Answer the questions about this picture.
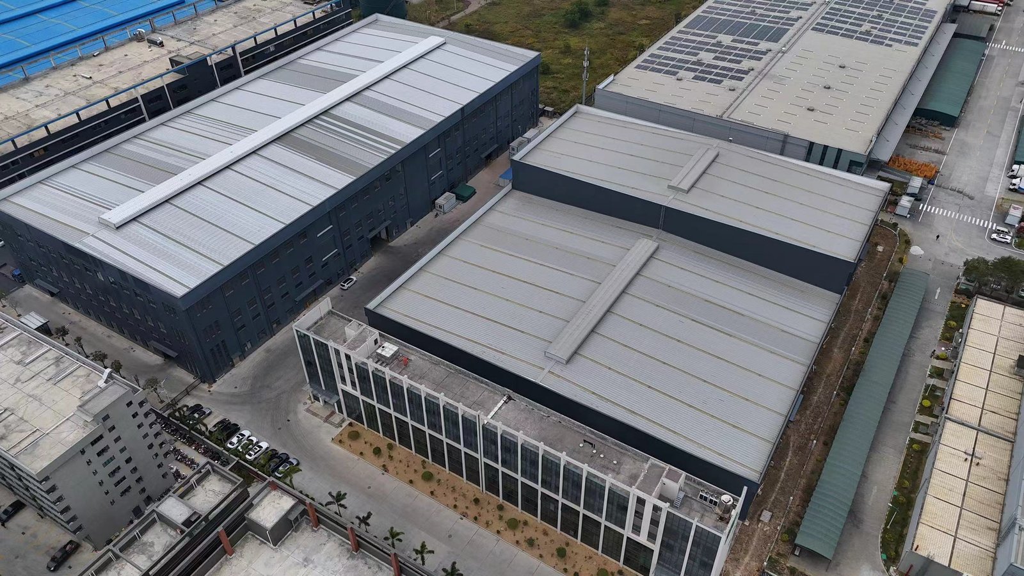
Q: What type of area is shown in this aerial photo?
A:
industrial area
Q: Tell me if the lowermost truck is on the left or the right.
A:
left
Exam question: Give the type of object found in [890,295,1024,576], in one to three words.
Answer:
building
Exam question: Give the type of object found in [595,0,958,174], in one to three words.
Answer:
warehouse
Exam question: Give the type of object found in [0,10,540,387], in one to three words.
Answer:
building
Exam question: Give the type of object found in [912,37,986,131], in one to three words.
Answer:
shed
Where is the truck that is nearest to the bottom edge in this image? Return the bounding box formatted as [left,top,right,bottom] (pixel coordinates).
[41,539,77,571]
